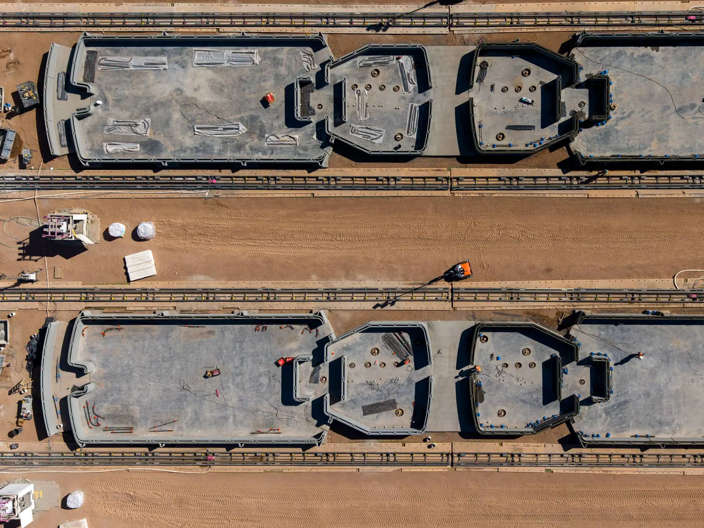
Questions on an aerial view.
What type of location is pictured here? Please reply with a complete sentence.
It's a residential area.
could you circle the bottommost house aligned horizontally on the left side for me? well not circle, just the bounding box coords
[40,311,434,445]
